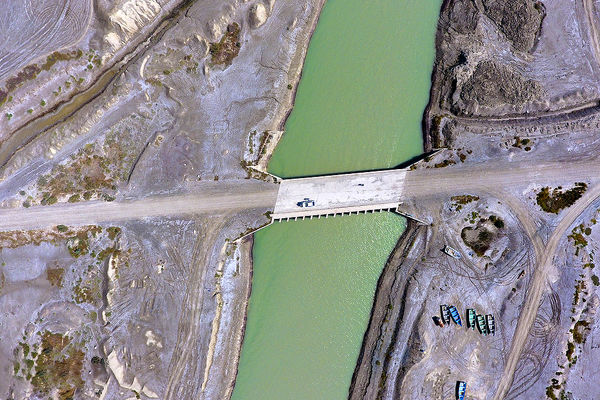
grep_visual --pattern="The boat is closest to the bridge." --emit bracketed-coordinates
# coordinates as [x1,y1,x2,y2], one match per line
[444,246,462,258]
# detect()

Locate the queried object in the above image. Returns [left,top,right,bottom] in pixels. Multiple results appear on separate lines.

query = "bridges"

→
[233,149,448,244]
